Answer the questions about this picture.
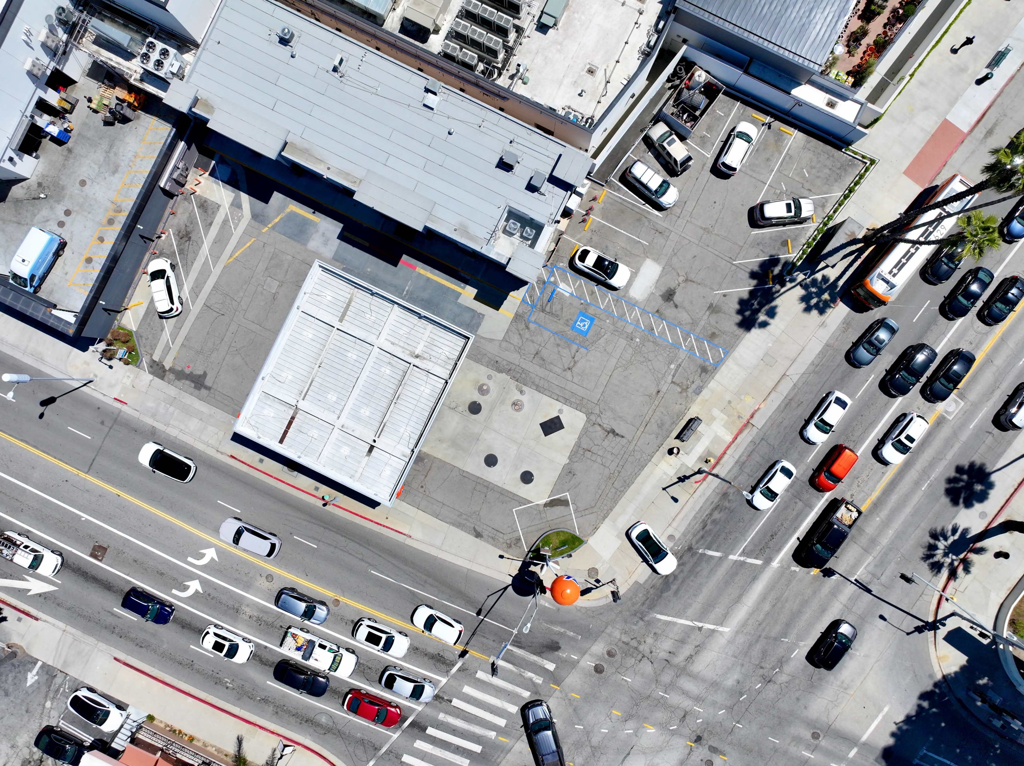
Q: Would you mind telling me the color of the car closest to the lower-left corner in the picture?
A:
black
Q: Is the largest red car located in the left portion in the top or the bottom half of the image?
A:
bottom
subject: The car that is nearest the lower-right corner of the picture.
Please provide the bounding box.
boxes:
[811,618,853,673]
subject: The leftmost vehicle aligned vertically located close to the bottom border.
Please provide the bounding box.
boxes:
[525,698,562,766]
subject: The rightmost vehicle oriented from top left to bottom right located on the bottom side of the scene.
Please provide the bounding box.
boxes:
[629,521,673,574]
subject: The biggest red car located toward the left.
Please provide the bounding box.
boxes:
[344,687,400,727]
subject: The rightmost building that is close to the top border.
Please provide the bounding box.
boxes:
[655,0,867,143]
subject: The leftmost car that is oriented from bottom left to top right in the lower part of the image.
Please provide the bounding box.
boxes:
[750,459,796,510]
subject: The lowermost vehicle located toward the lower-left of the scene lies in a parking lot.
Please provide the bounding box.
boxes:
[33,727,90,766]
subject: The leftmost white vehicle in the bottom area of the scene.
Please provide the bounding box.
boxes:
[0,525,62,574]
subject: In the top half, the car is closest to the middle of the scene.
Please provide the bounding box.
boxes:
[573,247,629,287]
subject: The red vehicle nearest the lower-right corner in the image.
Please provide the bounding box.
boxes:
[812,445,857,491]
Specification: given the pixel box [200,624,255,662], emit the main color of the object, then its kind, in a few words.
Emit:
white car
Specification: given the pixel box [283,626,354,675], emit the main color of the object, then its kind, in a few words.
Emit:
white truck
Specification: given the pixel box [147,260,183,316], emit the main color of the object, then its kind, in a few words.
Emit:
white car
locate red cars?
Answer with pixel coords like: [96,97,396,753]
[344,687,400,727]
[812,445,857,491]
